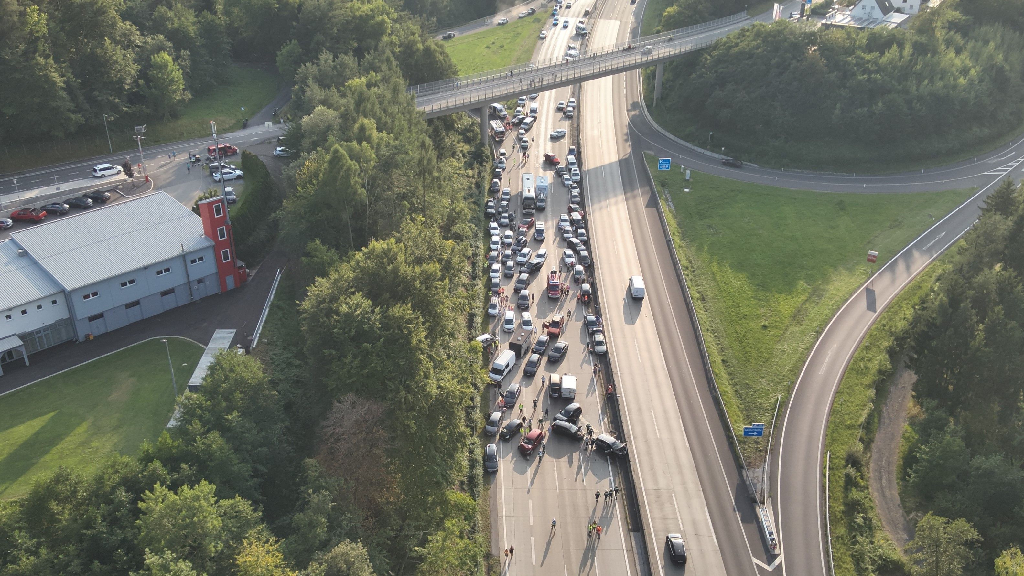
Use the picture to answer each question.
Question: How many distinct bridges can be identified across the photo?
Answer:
1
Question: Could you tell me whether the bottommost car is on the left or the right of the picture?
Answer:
right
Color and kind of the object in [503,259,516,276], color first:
gray vehicle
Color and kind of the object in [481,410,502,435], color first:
gray car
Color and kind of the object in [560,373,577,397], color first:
white vehicle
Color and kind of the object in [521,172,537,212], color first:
white vehicle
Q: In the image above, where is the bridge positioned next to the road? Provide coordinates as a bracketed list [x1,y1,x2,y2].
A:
[405,7,772,147]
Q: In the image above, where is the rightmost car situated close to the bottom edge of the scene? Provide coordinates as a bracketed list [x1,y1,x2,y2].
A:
[666,531,687,562]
